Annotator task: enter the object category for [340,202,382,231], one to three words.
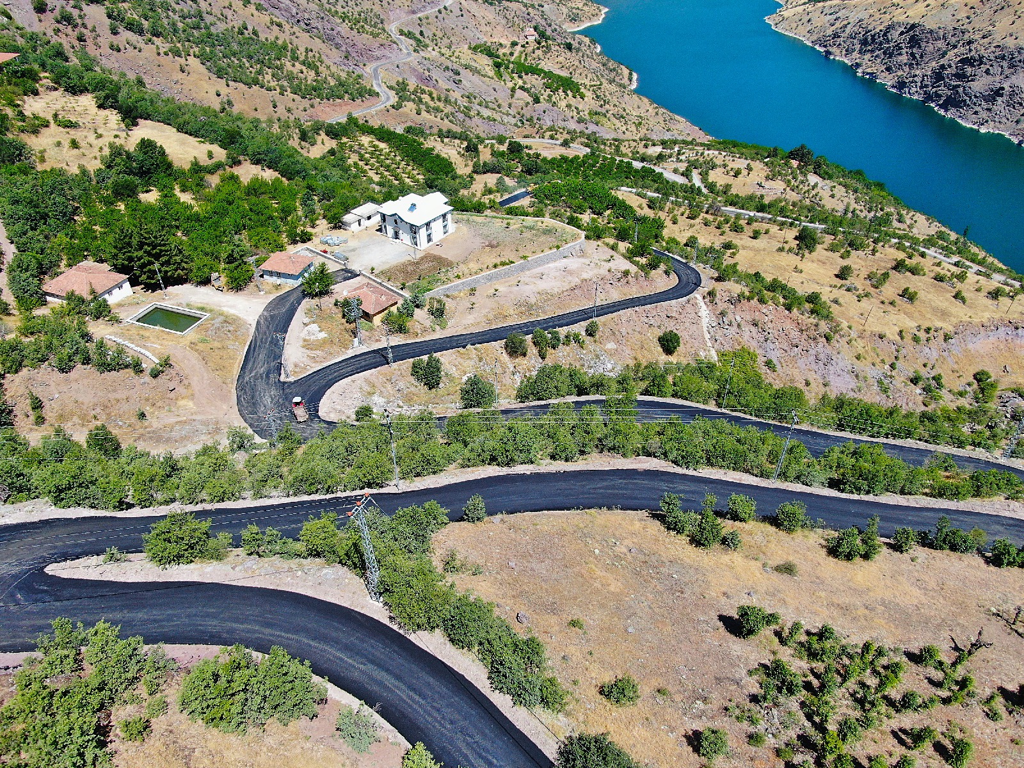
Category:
building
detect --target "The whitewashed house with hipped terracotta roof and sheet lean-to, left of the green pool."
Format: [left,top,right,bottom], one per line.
[45,262,125,305]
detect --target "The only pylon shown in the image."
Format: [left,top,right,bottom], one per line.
[340,489,385,605]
